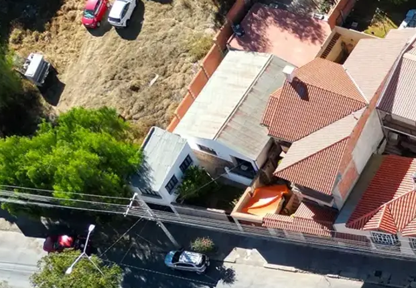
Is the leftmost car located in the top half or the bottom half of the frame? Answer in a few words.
top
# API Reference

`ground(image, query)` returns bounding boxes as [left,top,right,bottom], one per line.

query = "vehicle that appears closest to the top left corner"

[17,50,51,87]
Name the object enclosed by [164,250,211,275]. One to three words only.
car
